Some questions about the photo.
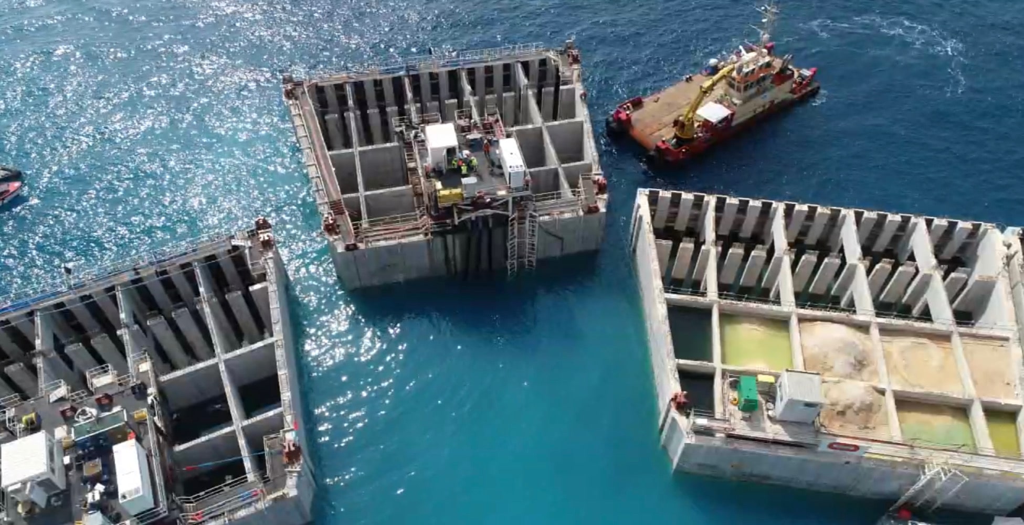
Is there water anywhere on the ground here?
Yes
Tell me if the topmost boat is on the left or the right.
right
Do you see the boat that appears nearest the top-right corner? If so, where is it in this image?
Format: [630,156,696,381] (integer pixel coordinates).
[606,0,825,162]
